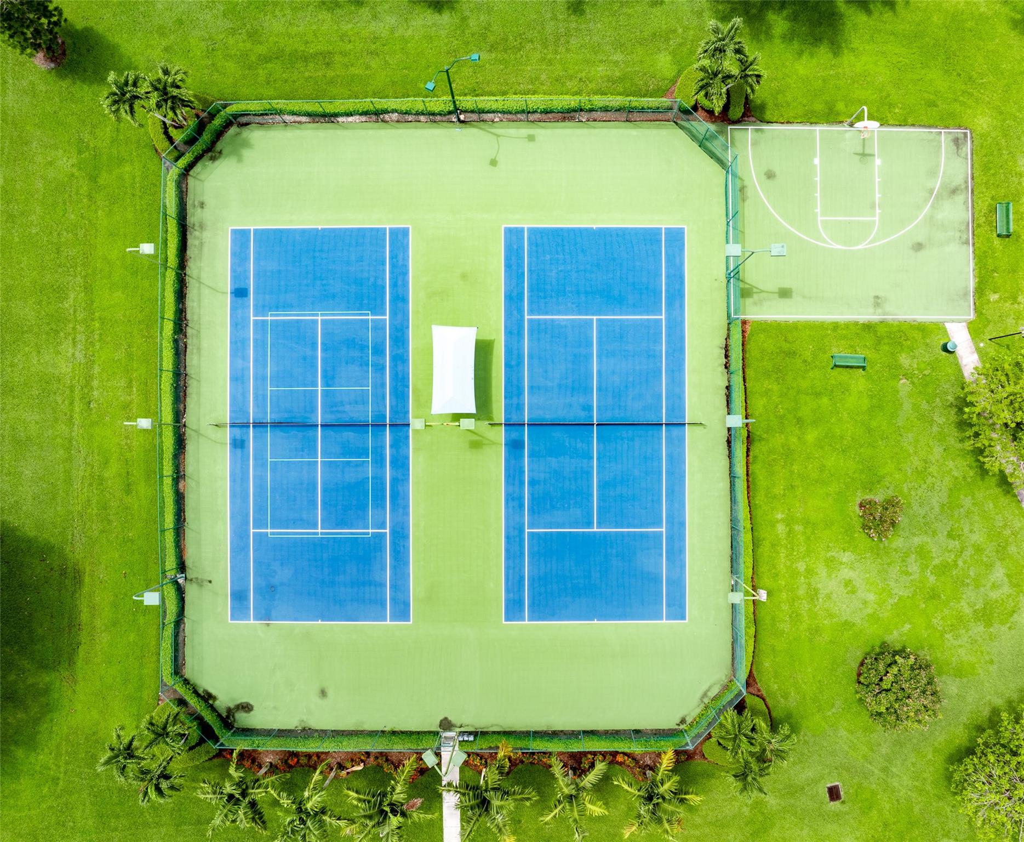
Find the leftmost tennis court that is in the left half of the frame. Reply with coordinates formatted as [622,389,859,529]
[229,227,411,623]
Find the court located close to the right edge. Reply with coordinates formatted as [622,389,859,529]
[675,122,976,322]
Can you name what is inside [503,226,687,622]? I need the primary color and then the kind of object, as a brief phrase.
blue tennis court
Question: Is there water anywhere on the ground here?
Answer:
No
